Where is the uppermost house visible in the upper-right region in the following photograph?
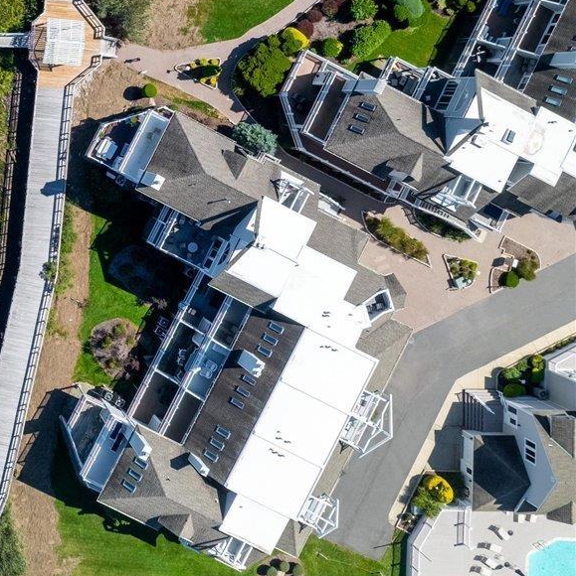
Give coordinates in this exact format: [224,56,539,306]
[268,0,576,248]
